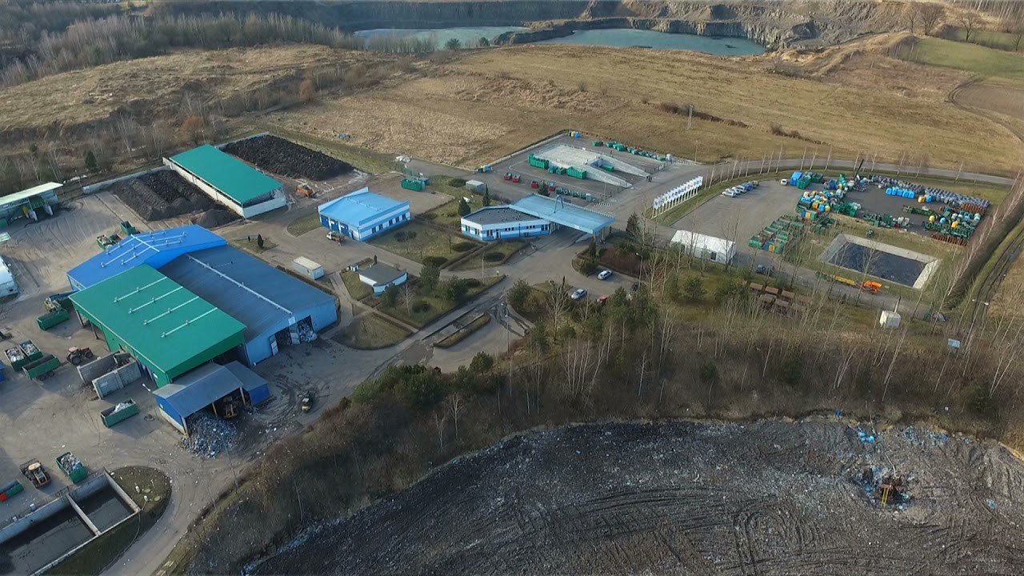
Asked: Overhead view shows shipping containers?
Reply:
Yes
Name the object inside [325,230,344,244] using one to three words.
vehicle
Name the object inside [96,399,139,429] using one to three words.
shipping container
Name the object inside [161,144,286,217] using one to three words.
shed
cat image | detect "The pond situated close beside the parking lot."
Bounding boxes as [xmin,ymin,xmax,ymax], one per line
[816,233,944,290]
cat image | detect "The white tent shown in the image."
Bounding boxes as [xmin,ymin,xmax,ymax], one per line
[670,235,732,266]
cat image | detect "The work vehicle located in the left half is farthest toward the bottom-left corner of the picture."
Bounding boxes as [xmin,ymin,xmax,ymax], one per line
[13,453,51,487]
